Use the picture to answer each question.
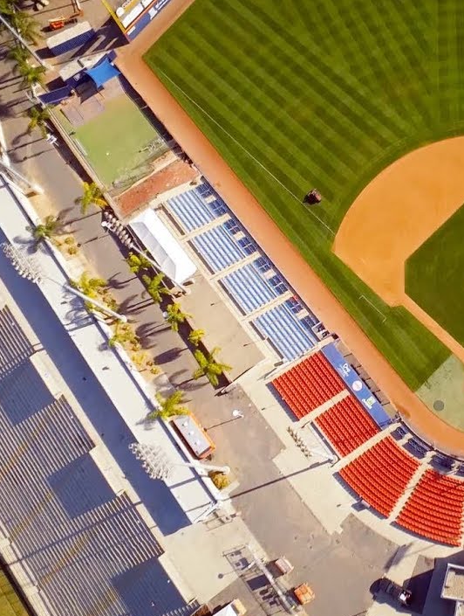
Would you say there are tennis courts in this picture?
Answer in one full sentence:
No, there appears to be no tennis court in this shot.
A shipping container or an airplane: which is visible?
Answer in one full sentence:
This aerial view contains a shipping container.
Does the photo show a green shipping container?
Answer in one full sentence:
No, no green shipping container is visible in the scene.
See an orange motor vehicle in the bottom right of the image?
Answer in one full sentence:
No, no orange motor vehicle can be made out in the bottom right of the image.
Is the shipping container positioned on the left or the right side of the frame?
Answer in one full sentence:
The shipping container appears in the left half of the scene.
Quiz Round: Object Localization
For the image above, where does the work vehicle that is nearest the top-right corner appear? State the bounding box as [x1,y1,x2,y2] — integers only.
[301,189,321,203]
